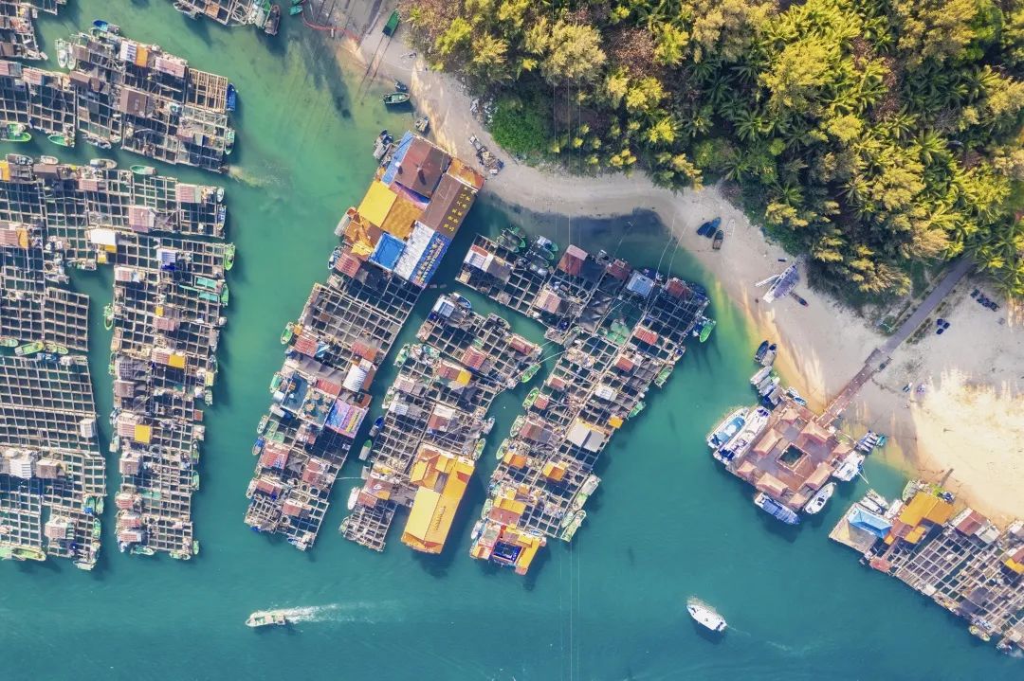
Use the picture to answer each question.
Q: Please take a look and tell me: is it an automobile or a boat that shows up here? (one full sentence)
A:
The image shows a boat.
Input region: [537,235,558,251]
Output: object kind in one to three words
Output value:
boat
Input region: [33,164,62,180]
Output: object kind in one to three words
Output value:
shed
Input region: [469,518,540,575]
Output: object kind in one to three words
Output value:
building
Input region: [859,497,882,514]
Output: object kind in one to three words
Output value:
boat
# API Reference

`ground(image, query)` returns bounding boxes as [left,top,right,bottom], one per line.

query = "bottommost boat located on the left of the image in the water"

[246,614,288,626]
